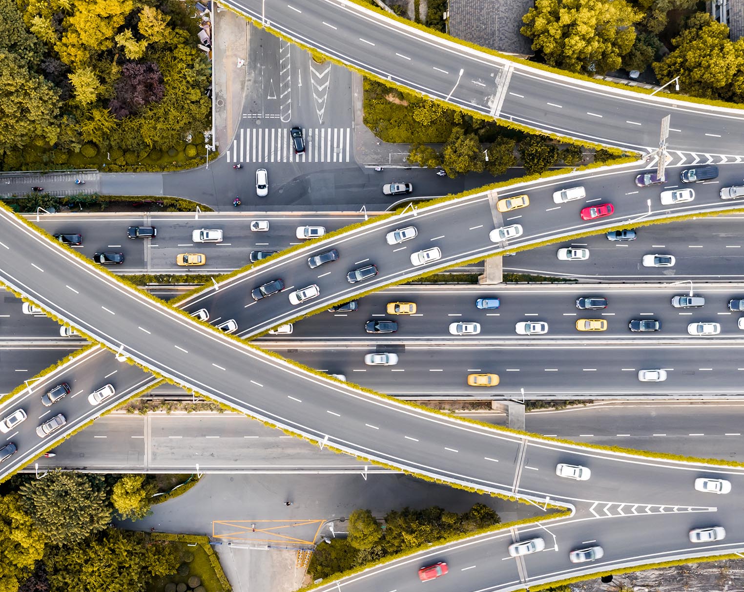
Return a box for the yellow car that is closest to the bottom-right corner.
[574,317,608,332]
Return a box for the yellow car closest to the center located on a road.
[384,301,417,314]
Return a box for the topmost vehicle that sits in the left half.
[289,126,306,156]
